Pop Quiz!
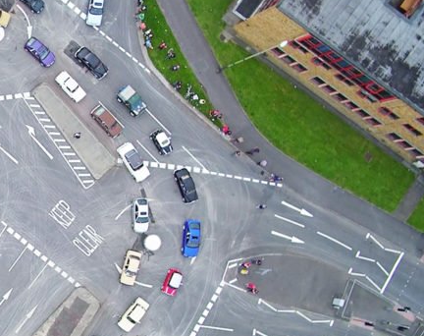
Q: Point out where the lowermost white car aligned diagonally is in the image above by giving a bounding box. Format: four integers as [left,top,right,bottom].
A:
[115,293,149,334]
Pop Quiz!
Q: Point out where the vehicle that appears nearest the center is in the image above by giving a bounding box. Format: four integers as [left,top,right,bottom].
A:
[169,167,199,205]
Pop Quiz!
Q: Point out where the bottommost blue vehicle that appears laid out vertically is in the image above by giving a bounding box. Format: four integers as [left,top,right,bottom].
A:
[179,217,201,259]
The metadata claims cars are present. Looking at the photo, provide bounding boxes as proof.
[17,0,47,15]
[70,44,110,83]
[130,197,149,235]
[86,0,106,28]
[51,68,88,105]
[159,266,183,297]
[113,139,153,185]
[117,247,141,288]
[21,35,57,71]
[115,293,149,334]
[87,102,124,140]
[0,9,13,31]
[146,127,175,159]
[169,167,199,205]
[111,81,149,119]
[179,217,201,259]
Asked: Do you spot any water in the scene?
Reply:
No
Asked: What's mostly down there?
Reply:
paved ground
